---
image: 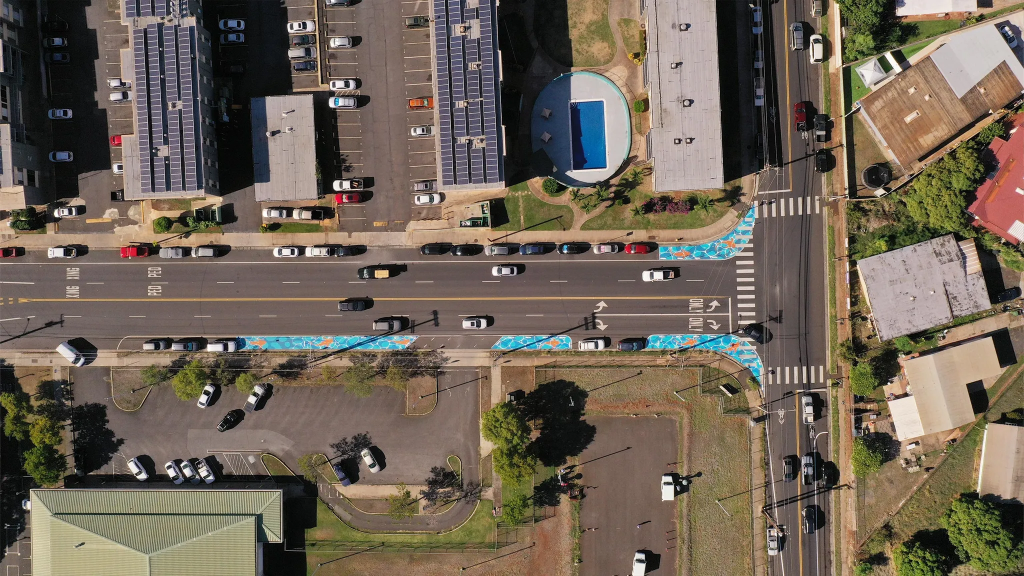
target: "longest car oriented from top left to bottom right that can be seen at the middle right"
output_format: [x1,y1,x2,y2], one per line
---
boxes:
[740,323,765,343]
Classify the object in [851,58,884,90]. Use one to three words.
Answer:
gazebo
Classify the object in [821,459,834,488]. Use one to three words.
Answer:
vehicle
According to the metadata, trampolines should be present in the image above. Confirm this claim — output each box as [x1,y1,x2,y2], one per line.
[860,163,894,190]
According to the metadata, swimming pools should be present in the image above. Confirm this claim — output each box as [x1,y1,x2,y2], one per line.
[531,70,632,188]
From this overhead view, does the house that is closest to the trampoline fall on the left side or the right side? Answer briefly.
right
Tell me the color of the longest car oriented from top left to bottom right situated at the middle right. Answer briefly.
black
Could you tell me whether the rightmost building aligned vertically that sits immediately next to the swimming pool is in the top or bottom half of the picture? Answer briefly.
top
